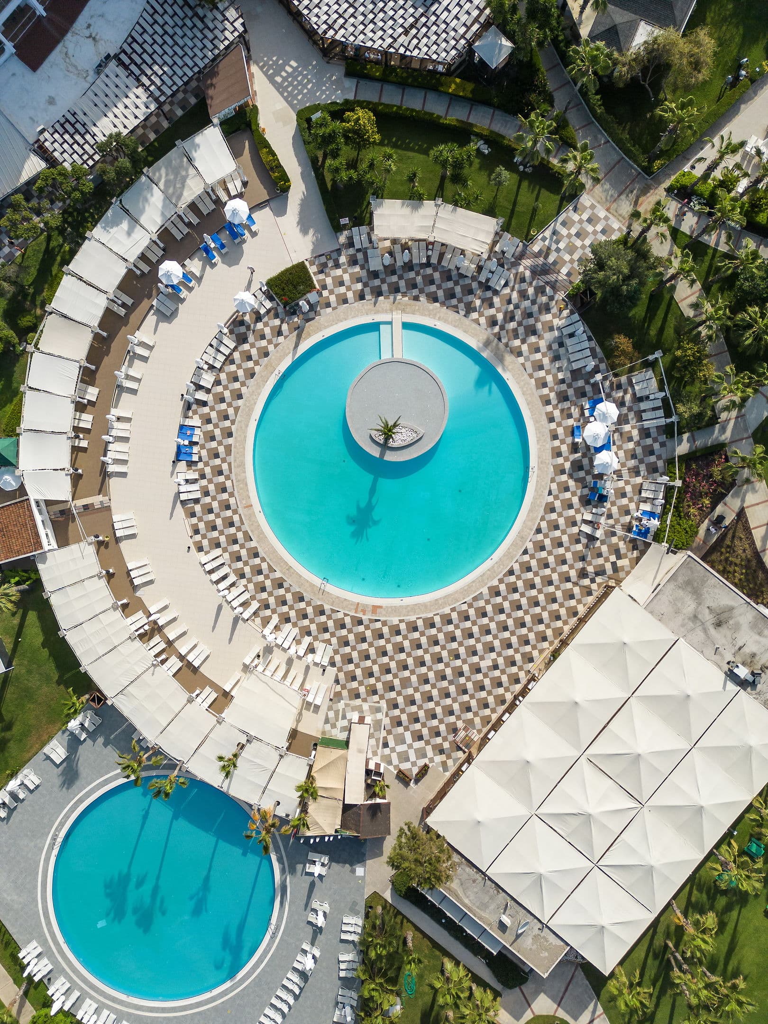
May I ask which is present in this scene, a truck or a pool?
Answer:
pool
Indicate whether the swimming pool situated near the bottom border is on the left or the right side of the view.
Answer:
left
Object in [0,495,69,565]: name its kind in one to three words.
house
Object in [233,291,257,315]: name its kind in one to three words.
umbrella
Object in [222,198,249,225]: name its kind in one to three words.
umbrella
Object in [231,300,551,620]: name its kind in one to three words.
swimming pool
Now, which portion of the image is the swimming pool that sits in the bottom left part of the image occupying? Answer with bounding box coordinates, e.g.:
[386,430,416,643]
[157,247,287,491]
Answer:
[39,762,289,1013]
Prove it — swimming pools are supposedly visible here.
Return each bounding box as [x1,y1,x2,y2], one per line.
[231,300,551,620]
[39,762,289,1013]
